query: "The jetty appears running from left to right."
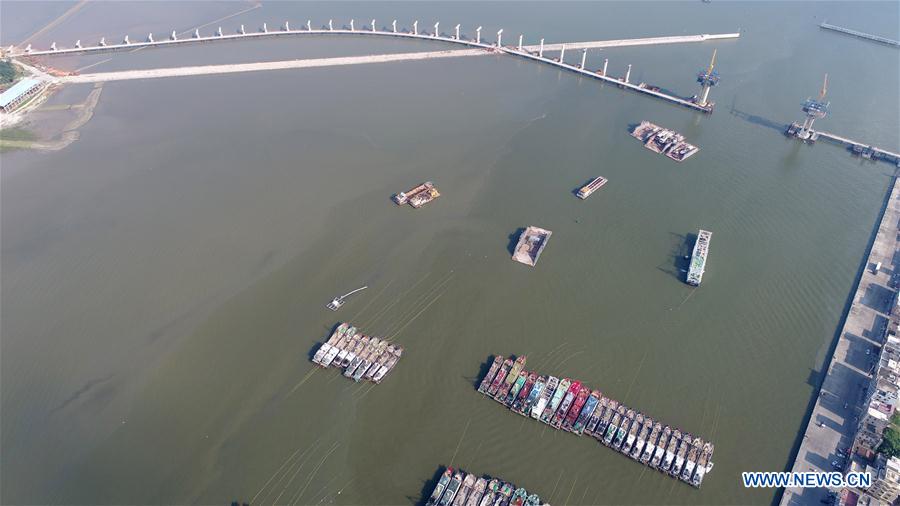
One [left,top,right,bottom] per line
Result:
[818,24,900,48]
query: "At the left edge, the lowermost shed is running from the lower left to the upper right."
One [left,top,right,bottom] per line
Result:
[0,73,43,111]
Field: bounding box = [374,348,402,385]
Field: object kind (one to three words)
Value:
boat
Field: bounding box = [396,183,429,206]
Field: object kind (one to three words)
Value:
ship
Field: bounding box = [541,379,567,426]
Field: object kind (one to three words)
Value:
boat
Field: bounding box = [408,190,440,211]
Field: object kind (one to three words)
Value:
ship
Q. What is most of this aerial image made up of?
water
